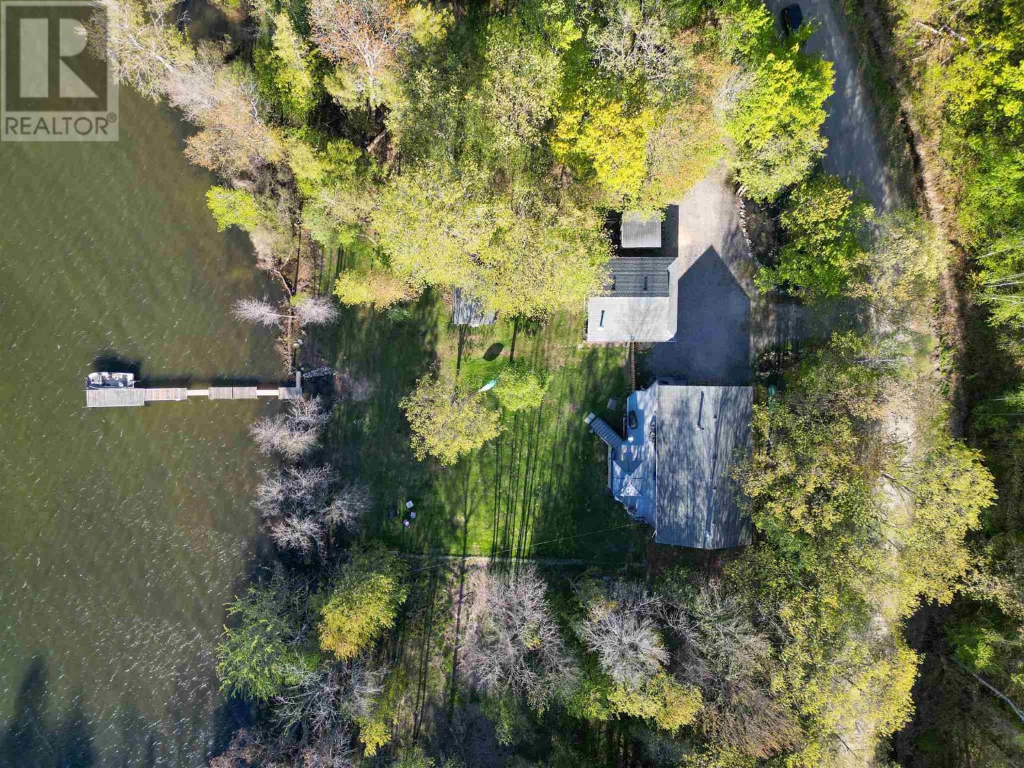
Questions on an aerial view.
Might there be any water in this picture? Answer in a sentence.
Yes, some water is visible.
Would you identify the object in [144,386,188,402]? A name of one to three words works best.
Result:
pier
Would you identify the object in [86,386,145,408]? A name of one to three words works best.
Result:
pier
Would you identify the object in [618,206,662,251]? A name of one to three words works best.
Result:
shed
